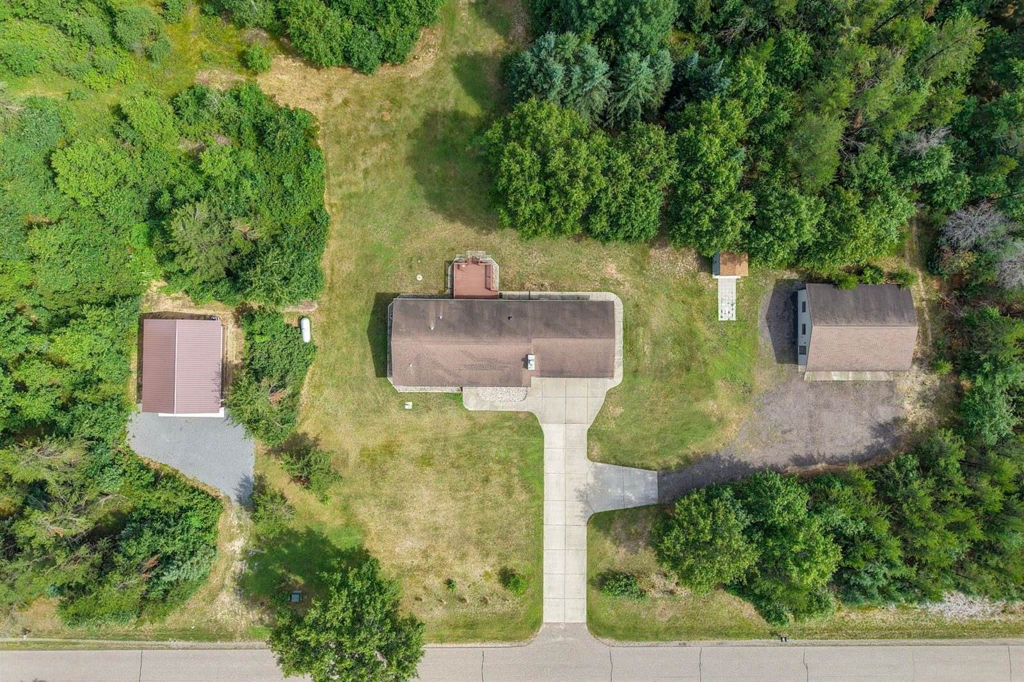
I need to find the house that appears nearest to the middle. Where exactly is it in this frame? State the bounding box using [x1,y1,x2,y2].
[390,298,617,388]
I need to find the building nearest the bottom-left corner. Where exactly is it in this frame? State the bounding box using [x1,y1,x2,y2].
[142,319,231,414]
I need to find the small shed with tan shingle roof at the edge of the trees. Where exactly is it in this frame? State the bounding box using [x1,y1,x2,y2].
[713,250,748,278]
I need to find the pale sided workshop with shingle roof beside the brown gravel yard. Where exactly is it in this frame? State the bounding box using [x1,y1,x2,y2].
[798,284,920,371]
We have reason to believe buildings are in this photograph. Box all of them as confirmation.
[390,298,617,388]
[142,319,231,414]
[798,284,920,371]
[713,250,748,278]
